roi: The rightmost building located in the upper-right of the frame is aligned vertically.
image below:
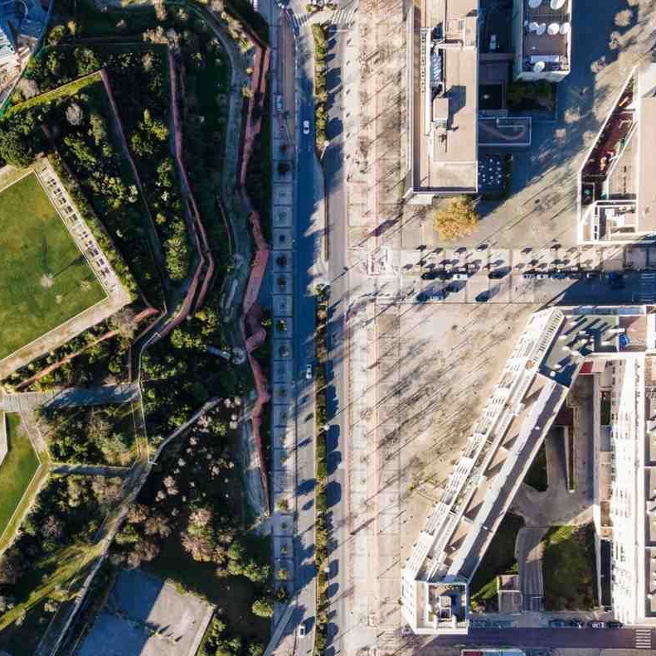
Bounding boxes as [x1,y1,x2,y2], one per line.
[574,62,656,247]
